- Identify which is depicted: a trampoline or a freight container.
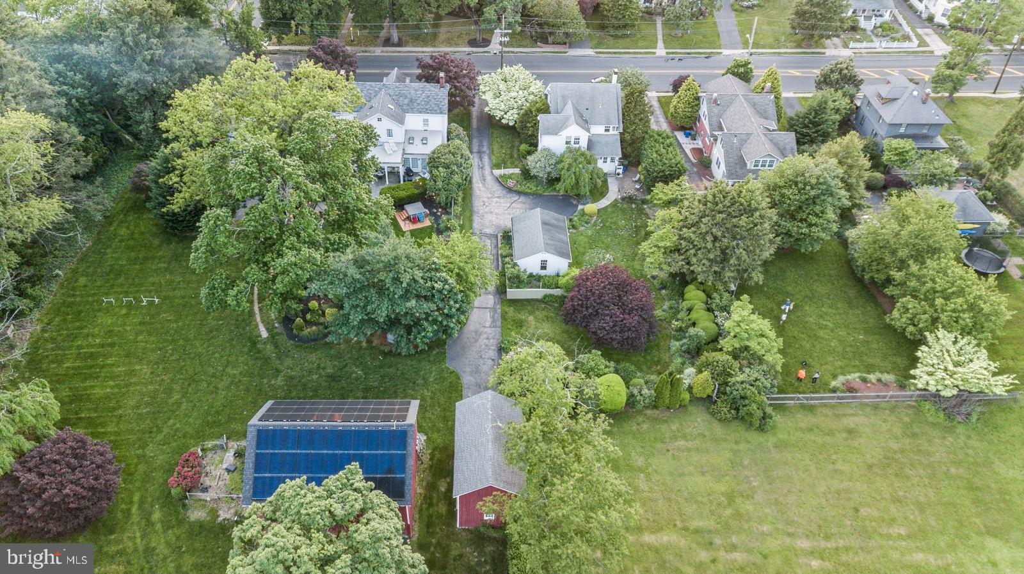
trampoline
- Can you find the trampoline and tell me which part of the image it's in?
right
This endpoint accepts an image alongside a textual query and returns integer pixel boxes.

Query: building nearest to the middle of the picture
[511,205,571,281]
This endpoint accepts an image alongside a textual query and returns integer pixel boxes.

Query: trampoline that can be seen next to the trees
[964,232,1012,276]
